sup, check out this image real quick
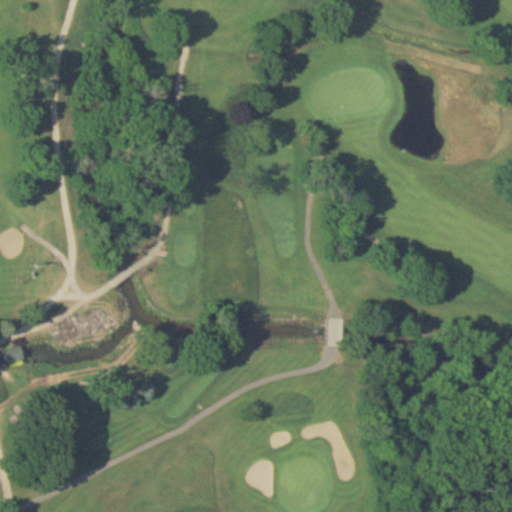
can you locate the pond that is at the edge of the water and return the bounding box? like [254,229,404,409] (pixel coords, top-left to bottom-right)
[390,60,443,158]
